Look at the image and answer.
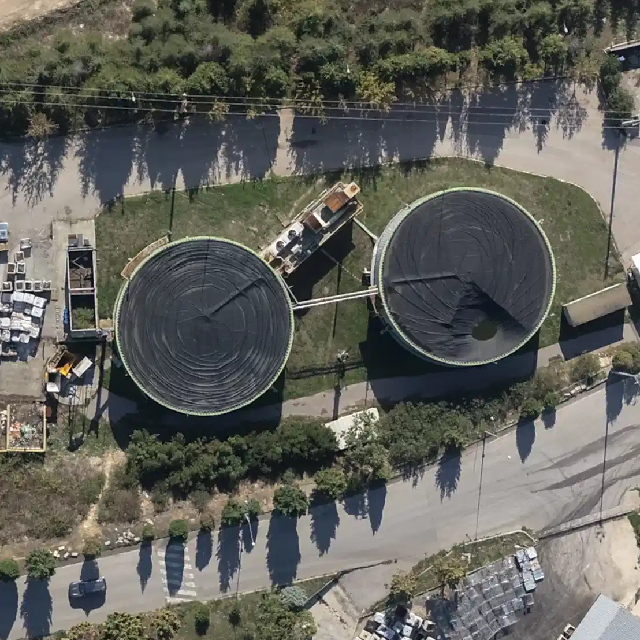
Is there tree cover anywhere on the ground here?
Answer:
Yes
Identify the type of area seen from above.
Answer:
industrial area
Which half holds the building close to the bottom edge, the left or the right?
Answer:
right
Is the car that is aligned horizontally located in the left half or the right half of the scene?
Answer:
left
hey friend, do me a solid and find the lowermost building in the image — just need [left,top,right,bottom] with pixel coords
[563,593,640,640]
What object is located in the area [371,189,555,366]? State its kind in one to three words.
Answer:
storage tank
